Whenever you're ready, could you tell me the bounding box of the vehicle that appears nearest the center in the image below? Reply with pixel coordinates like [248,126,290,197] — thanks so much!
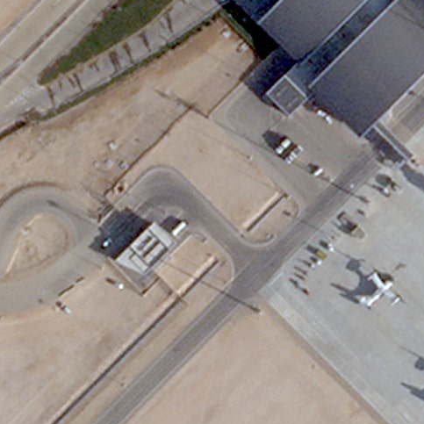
[171,221,186,236]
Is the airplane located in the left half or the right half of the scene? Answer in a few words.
right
